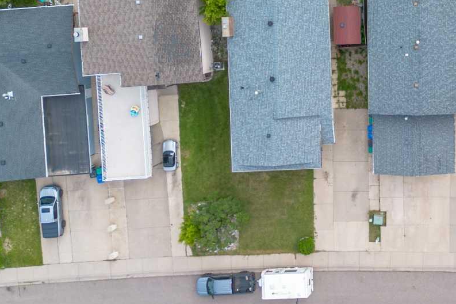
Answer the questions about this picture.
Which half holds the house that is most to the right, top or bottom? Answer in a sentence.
It is in the top half that the house that is most to the right appears.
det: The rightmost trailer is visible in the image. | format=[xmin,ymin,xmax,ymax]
[258,268,313,301]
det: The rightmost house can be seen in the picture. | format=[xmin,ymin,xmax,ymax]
[366,0,456,176]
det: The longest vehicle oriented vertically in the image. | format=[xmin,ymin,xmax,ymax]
[36,183,64,242]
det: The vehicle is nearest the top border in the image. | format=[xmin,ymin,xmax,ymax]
[159,140,180,170]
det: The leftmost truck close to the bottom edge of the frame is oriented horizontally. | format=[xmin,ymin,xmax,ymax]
[197,271,258,298]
